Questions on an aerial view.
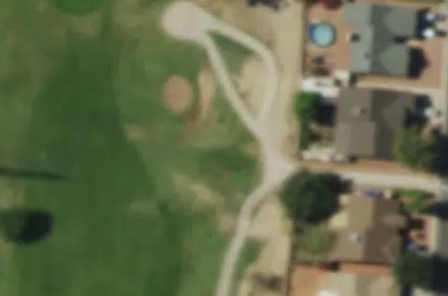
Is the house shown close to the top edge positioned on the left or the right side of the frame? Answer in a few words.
right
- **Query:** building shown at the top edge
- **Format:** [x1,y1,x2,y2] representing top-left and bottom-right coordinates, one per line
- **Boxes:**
[341,2,417,75]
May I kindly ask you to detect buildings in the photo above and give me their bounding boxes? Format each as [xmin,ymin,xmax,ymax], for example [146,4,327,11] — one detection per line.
[332,196,405,263]
[317,272,398,296]
[341,2,417,75]
[338,90,415,158]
